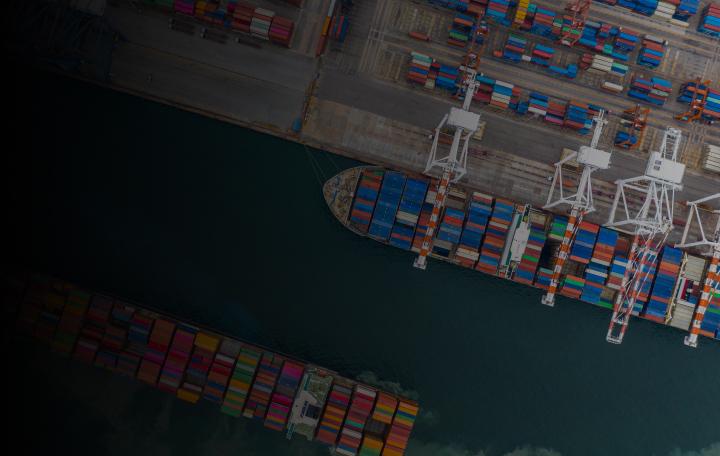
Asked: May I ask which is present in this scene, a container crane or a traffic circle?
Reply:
container crane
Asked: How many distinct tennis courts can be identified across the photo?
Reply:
0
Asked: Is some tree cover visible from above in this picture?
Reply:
No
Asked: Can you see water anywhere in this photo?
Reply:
Yes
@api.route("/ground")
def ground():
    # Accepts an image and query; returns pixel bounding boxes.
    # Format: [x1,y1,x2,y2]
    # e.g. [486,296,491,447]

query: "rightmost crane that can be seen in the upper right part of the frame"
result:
[665,80,709,126]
